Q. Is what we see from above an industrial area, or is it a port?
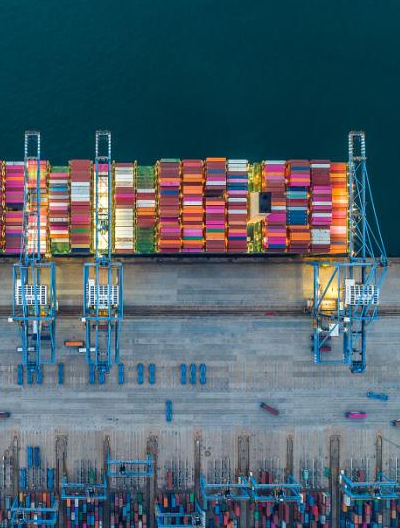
port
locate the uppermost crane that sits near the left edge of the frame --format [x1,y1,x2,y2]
[7,124,59,372]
